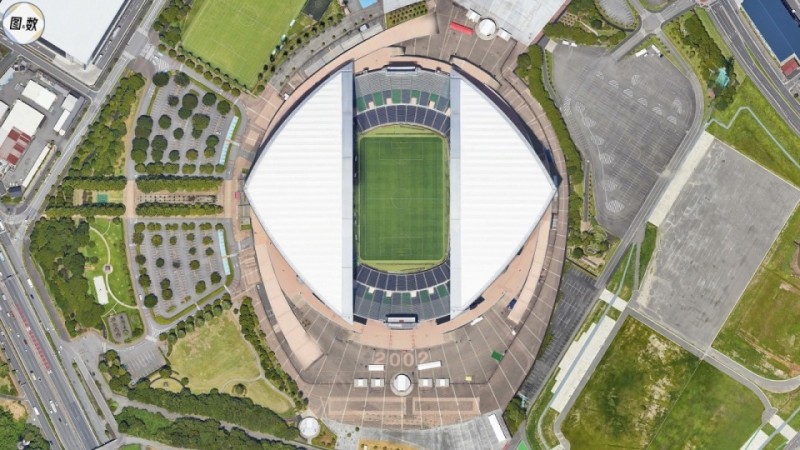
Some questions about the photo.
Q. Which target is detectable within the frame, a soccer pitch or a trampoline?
soccer pitch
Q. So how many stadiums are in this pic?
1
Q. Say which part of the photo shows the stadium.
center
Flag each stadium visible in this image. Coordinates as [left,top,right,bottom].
[245,62,557,328]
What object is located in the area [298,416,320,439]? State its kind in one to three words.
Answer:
building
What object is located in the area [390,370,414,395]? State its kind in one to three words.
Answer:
building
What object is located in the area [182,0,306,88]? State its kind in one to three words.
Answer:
sports field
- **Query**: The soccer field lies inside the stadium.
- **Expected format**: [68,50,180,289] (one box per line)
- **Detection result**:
[359,137,444,260]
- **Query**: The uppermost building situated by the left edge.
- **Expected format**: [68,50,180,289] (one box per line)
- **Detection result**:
[0,0,132,70]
